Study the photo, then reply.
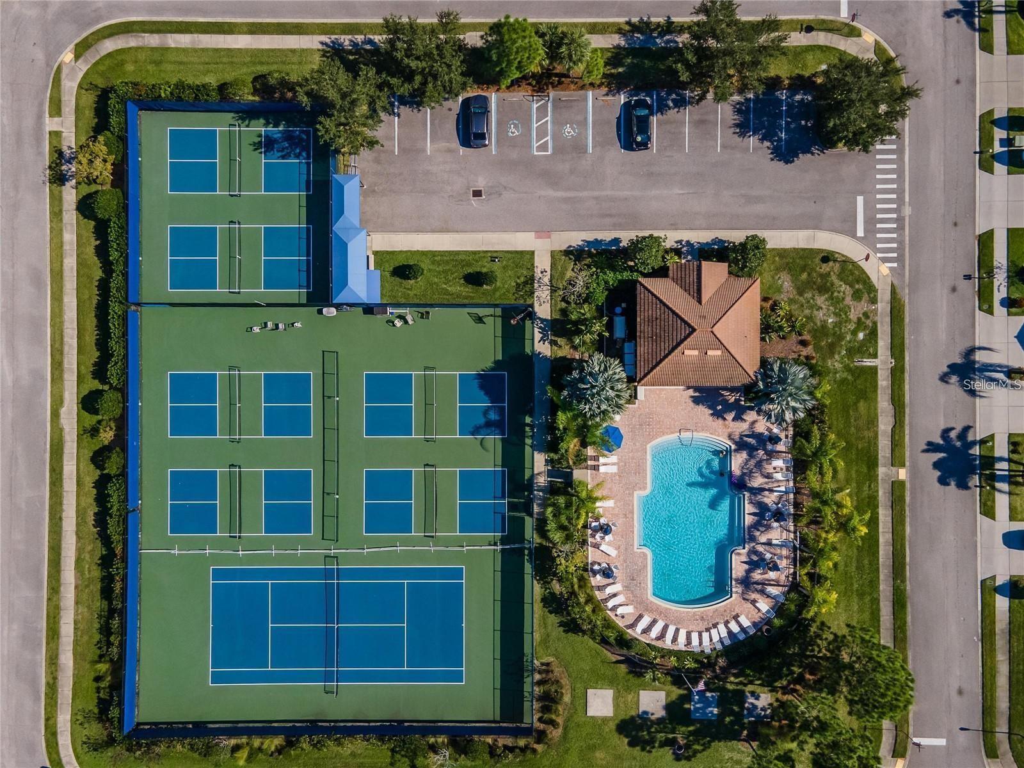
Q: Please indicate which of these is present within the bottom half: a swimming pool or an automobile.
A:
swimming pool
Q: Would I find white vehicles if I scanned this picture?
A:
No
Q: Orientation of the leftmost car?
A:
from top to bottom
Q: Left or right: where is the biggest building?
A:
right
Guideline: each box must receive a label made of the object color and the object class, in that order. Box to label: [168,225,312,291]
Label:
blue sports court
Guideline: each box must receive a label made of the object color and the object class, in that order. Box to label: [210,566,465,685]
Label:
blue tennis court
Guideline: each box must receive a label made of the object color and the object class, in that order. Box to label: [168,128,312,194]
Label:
blue sports court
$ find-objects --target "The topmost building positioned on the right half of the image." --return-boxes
[636,260,761,387]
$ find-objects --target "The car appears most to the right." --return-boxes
[629,98,655,153]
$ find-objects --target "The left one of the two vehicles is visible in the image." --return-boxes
[467,96,493,150]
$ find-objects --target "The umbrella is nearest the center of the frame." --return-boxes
[598,424,626,452]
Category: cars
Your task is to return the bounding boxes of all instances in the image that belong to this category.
[467,96,493,150]
[629,98,655,153]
